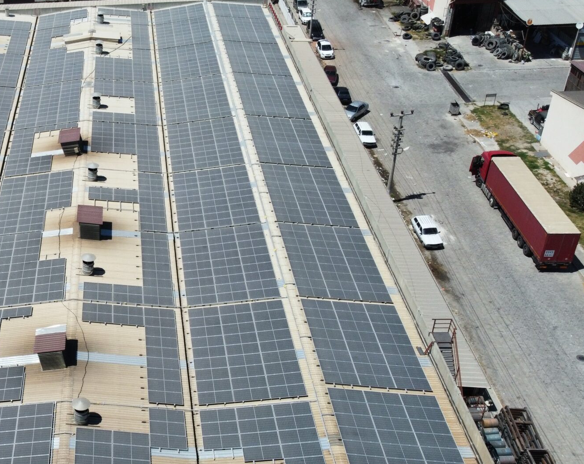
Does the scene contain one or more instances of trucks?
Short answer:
Yes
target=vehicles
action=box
[357,120,378,147]
[317,38,336,56]
[294,0,312,10]
[467,150,581,270]
[347,97,375,118]
[333,83,354,102]
[323,64,341,82]
[520,103,550,122]
[305,18,325,39]
[413,212,445,247]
